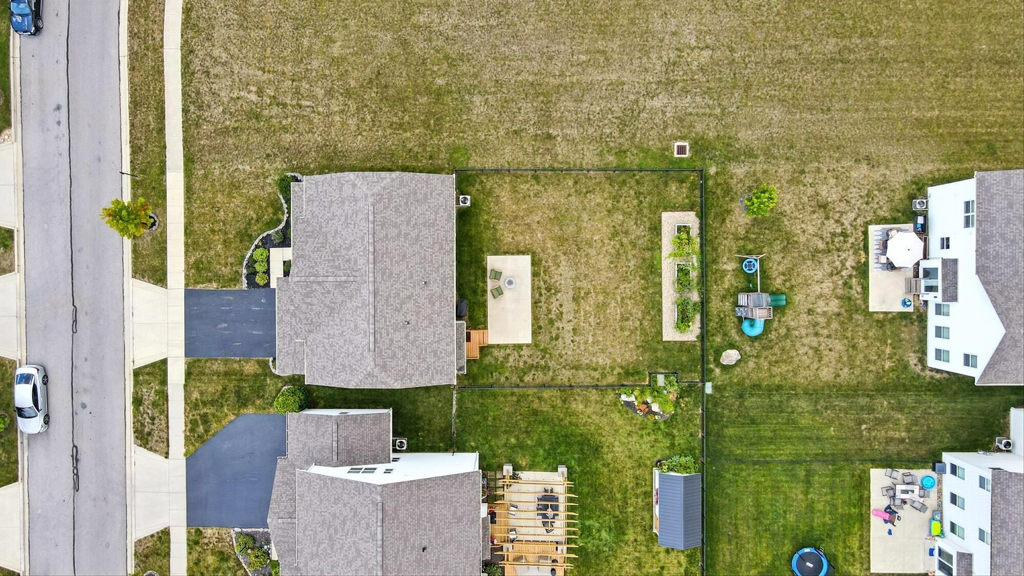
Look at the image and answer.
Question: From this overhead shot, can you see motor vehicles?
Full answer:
Yes, the photo shows a motor vehicle.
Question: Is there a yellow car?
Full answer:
No, this view has no yellow car in it.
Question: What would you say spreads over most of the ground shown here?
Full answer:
The bulk of the photo consists of grass.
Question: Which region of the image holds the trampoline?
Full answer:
Look in the bottom right portion of the view to spot the trampoline.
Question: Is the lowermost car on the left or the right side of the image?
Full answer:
It is on the left.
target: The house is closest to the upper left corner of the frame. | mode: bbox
[274,171,468,388]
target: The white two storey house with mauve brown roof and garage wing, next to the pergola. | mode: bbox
[268,408,492,576]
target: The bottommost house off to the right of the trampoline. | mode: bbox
[936,407,1024,576]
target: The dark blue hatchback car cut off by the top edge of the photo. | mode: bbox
[2,0,44,36]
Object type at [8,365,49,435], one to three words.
car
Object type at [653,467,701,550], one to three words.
shed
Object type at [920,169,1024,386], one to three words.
house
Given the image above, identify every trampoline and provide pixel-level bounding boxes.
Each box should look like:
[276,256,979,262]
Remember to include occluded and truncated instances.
[786,540,836,576]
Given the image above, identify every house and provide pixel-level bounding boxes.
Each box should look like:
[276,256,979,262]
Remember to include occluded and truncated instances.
[936,407,1024,576]
[274,171,468,388]
[920,169,1024,386]
[268,408,492,576]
